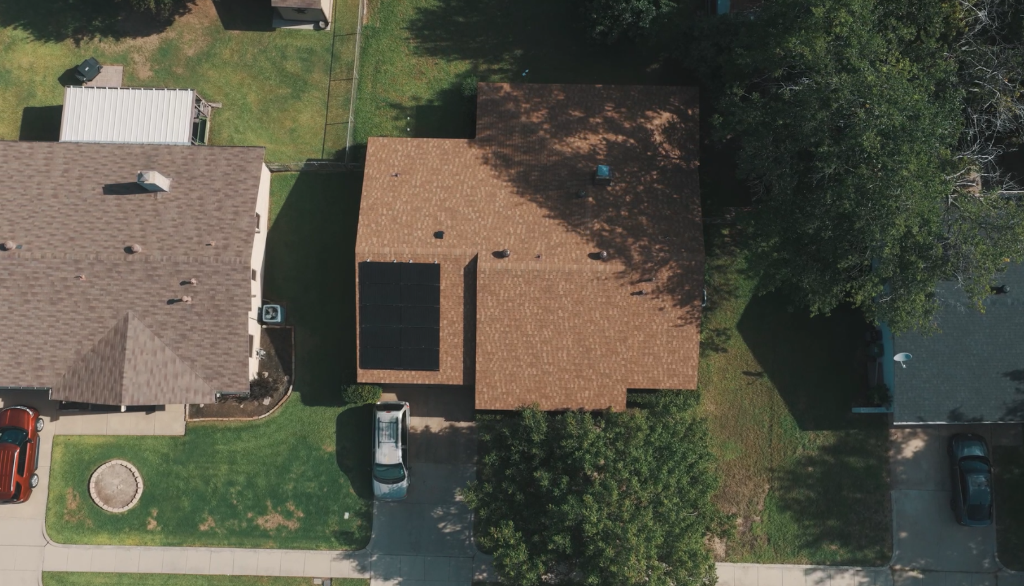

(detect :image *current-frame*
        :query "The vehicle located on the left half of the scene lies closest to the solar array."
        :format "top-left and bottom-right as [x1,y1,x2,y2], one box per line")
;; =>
[366,401,411,504]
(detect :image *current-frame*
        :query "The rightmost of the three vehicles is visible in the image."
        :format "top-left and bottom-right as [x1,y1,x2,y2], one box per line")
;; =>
[947,433,997,530]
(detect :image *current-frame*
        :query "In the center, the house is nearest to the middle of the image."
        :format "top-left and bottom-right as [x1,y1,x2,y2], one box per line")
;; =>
[354,84,708,412]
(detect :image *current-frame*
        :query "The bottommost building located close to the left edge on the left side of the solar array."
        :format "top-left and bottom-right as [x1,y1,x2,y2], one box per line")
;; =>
[0,140,269,412]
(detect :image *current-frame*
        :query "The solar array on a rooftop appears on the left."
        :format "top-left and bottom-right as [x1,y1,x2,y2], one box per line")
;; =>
[358,257,439,372]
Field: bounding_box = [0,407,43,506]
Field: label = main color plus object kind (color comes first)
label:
red car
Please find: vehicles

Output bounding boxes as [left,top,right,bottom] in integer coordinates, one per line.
[366,401,411,504]
[947,433,997,530]
[0,407,43,506]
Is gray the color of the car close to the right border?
No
